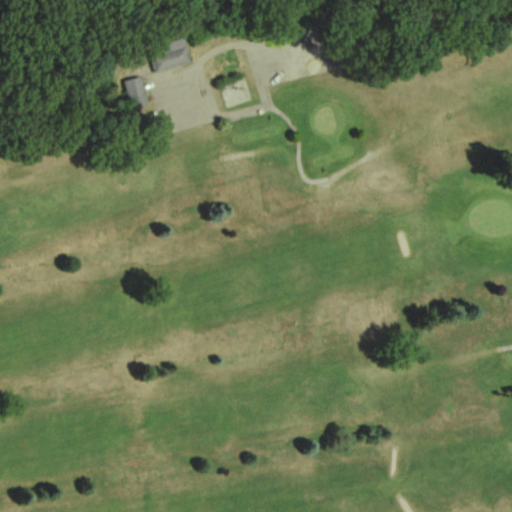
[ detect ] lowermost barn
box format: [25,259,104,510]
[126,78,148,108]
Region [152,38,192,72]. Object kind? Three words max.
building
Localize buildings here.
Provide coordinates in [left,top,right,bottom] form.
[152,38,192,72]
[126,78,148,108]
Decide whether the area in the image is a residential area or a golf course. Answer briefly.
golf course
